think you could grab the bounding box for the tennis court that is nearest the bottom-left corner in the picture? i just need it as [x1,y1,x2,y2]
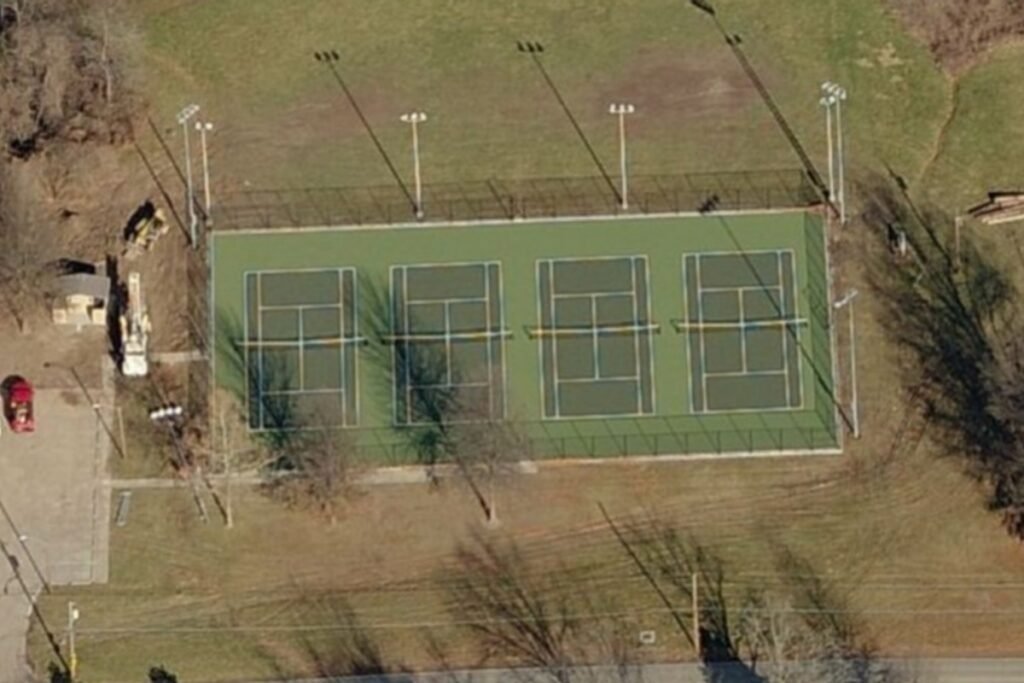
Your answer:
[236,268,366,431]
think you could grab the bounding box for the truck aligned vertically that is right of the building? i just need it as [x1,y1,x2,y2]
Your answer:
[120,269,152,375]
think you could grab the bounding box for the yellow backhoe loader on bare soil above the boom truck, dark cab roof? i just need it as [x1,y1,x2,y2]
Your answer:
[130,212,171,252]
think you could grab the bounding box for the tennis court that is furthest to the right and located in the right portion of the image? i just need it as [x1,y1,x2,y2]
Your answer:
[678,250,807,412]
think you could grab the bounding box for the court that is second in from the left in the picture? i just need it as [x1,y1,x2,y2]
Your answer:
[383,262,513,425]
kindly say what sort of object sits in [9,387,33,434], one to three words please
truck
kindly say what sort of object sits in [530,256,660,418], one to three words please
tennis court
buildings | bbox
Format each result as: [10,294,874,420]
[52,273,108,335]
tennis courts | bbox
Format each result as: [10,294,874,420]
[530,256,660,418]
[236,268,366,431]
[383,262,513,425]
[678,250,807,412]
